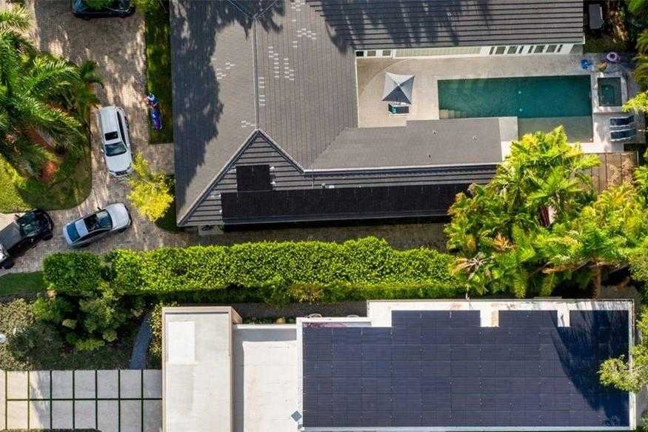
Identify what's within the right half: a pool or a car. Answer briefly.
pool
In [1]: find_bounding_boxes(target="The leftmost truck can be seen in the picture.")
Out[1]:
[0,204,56,264]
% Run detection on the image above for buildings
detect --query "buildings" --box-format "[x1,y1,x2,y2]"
[162,299,635,432]
[169,0,588,229]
